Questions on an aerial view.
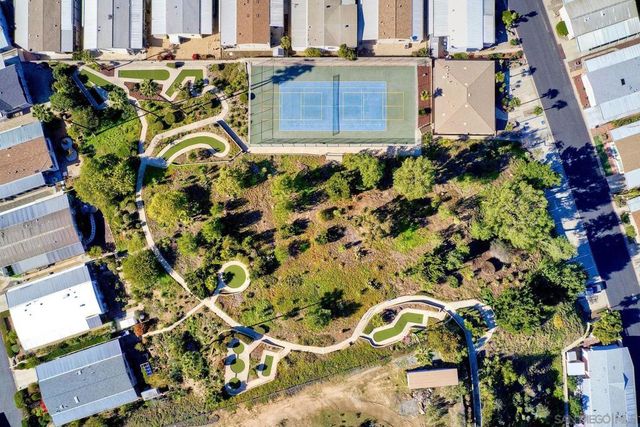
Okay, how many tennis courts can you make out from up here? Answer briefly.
1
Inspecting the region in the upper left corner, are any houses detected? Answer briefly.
Yes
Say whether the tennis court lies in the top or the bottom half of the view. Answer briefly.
top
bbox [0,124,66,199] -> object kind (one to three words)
house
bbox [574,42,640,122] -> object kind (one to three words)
house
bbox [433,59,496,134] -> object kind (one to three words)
building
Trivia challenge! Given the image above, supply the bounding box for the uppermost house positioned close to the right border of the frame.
[555,0,640,55]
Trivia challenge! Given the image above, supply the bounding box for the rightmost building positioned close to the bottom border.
[576,342,637,427]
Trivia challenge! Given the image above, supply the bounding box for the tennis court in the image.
[249,64,418,146]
